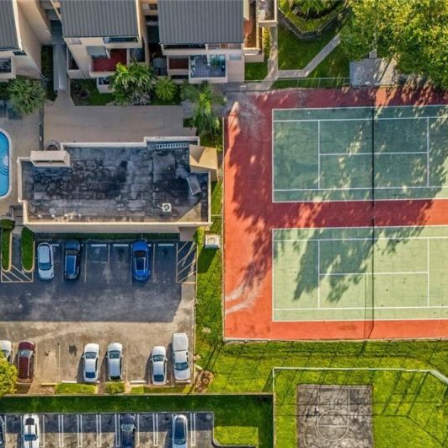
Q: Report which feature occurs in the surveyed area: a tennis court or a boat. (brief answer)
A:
tennis court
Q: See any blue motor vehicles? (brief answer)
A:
Yes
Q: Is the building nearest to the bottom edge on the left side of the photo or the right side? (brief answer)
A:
left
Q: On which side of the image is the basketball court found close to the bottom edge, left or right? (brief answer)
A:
right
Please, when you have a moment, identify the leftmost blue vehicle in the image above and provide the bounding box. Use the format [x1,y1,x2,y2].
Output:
[35,241,55,280]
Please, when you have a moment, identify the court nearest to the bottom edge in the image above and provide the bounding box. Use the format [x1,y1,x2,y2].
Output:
[297,386,373,448]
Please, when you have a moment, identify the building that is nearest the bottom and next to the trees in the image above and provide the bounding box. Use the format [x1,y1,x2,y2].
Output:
[17,136,217,241]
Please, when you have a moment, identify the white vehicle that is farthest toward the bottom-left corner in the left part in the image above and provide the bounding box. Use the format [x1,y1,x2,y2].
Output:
[21,413,40,448]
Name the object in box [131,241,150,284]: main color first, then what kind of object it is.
blue car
